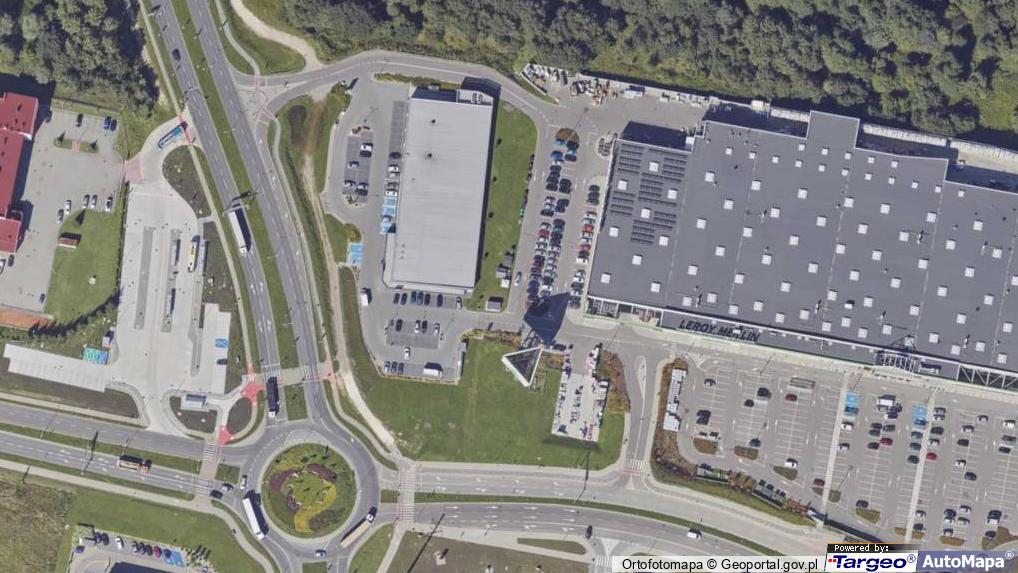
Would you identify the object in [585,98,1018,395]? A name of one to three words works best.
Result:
building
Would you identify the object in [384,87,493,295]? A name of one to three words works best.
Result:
building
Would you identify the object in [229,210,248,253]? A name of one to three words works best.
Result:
vehicle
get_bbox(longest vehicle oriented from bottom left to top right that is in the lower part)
[340,515,375,546]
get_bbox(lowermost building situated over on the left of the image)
[180,393,209,411]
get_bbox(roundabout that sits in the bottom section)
[240,422,379,561]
